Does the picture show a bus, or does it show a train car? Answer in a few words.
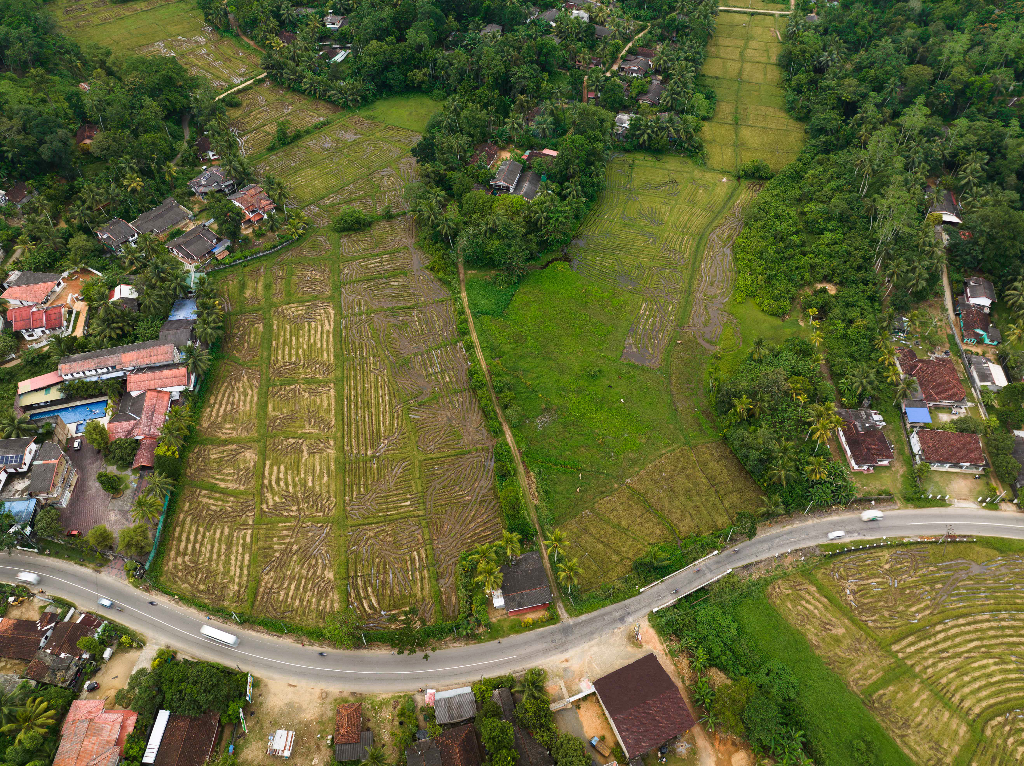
bus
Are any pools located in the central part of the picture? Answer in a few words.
No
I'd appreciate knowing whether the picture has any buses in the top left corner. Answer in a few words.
No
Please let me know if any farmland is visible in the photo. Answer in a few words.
Yes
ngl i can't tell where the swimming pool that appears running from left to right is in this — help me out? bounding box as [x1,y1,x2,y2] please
[25,397,112,438]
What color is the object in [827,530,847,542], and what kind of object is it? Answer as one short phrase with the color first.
white vehicle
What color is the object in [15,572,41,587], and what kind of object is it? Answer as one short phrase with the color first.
white vehicle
